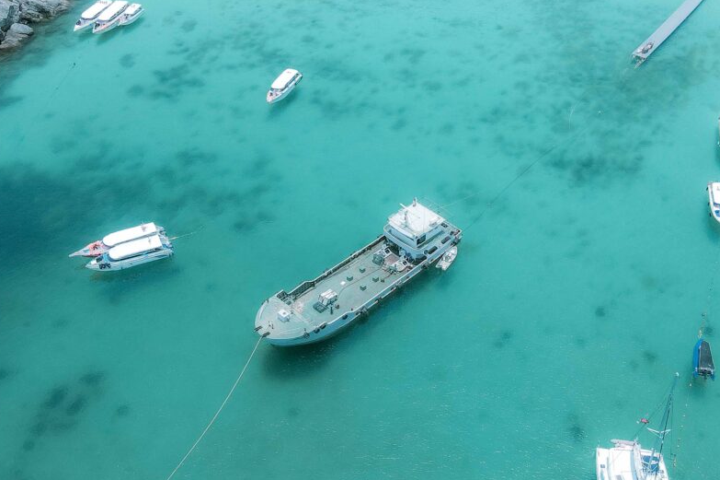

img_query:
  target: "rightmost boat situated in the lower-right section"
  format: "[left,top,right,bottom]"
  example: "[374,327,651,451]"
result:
[693,340,720,386]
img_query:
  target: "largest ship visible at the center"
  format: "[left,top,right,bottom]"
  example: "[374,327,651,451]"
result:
[257,194,466,348]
